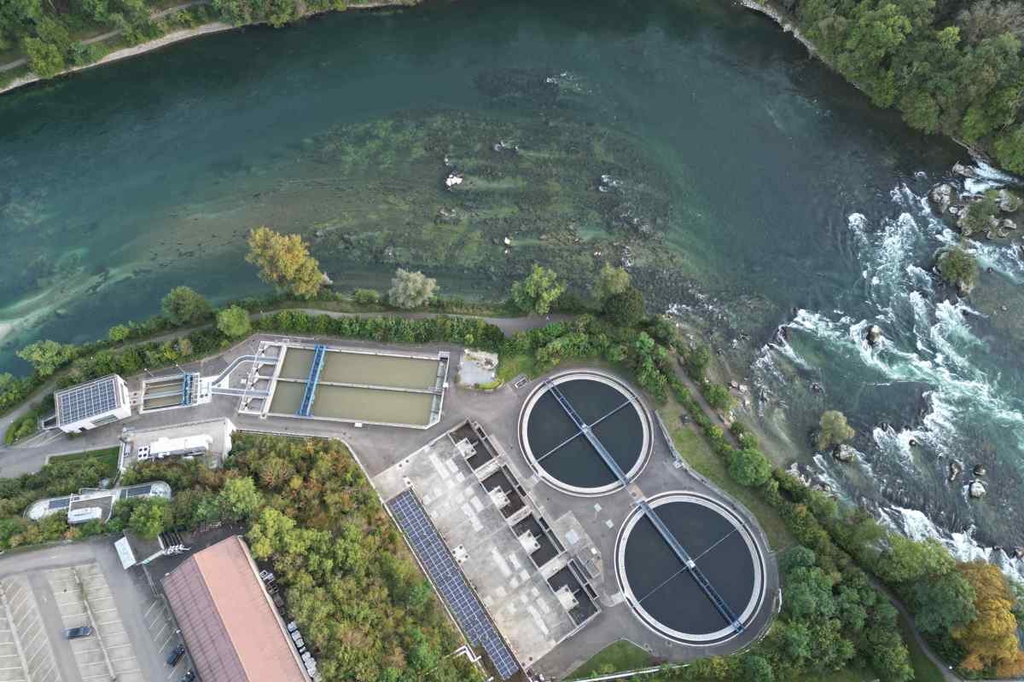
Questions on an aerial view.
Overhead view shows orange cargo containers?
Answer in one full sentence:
No, the scene contains no orange cargo container.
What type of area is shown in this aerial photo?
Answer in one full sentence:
This image shows an industrial area.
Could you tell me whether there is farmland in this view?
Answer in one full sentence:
No, the picture contains no farmland.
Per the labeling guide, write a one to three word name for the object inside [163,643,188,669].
car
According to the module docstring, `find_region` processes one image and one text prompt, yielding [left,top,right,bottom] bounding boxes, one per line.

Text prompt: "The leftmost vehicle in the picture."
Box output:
[66,626,92,640]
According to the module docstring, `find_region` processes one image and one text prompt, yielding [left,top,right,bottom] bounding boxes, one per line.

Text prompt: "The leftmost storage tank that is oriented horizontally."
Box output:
[139,372,214,416]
